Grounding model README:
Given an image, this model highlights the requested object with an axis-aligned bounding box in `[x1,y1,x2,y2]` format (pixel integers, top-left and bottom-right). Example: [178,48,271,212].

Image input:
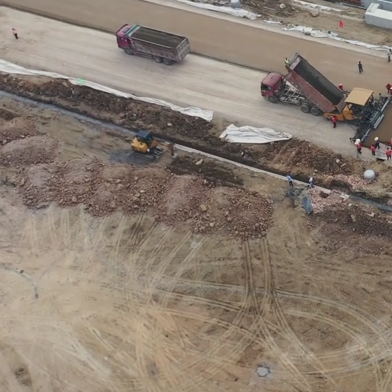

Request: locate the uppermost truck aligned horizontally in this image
[112,21,188,64]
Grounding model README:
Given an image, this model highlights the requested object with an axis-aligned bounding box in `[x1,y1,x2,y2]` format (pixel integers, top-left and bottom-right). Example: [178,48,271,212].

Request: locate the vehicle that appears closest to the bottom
[129,129,172,160]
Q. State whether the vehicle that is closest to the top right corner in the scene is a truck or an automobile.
truck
